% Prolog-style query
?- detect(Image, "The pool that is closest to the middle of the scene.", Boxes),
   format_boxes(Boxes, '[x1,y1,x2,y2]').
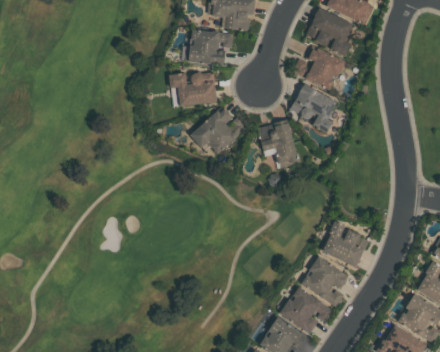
[244,148,260,172]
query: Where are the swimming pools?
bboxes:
[170,32,186,52]
[244,148,260,172]
[427,222,440,237]
[342,76,356,94]
[164,123,187,142]
[391,298,404,318]
[252,324,266,340]
[186,0,204,18]
[304,126,334,146]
